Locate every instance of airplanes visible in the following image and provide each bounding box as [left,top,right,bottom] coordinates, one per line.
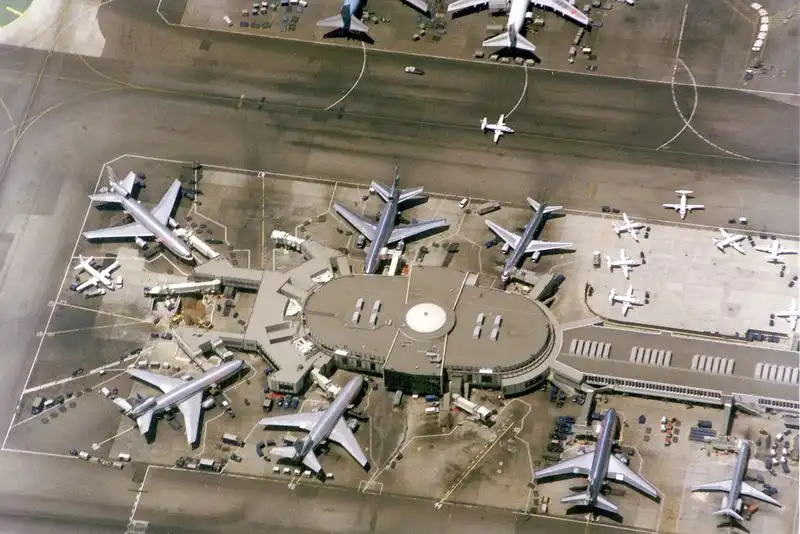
[754,240,797,265]
[73,256,121,291]
[534,413,659,517]
[479,112,515,140]
[335,175,450,276]
[258,380,366,472]
[319,0,370,30]
[662,186,705,220]
[77,166,191,262]
[694,445,780,525]
[609,212,647,241]
[111,365,242,447]
[449,0,588,50]
[484,193,574,285]
[711,227,747,255]
[609,284,647,314]
[772,301,800,328]
[606,248,644,278]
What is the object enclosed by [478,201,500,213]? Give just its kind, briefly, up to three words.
vehicle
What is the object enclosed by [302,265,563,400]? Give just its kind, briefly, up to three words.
building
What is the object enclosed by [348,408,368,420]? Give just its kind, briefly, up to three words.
vehicle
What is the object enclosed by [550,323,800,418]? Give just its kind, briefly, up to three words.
building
